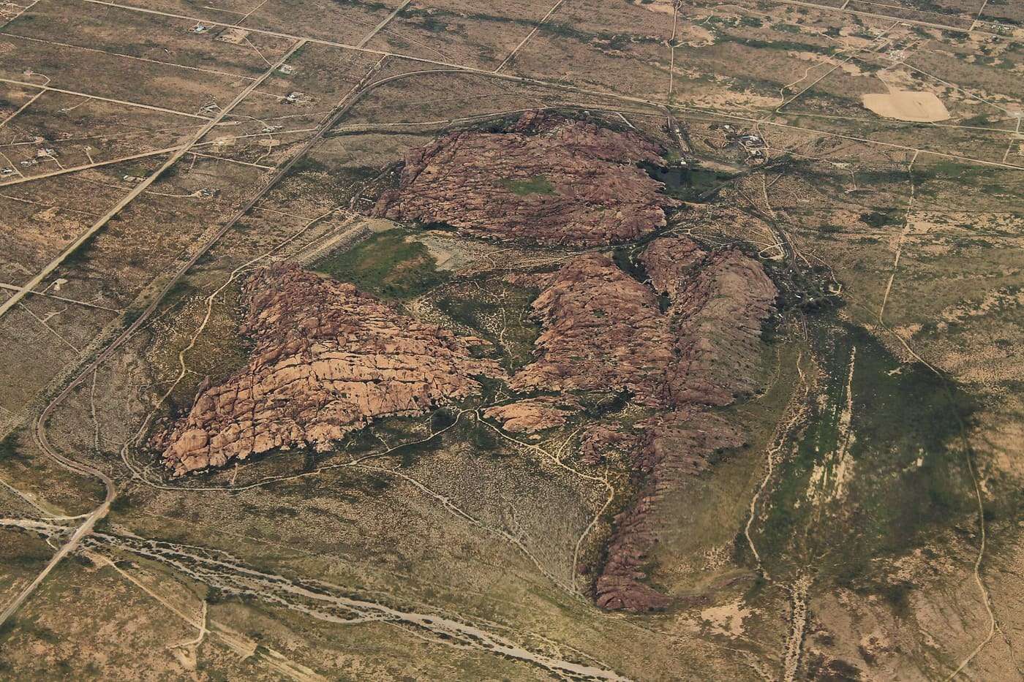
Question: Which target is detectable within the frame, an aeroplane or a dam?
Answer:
dam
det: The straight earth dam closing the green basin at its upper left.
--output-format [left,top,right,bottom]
[289,215,377,268]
